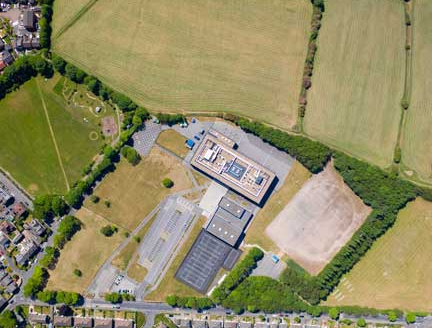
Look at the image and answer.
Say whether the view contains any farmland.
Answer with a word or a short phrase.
Yes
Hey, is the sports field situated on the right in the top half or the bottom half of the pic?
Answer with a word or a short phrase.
bottom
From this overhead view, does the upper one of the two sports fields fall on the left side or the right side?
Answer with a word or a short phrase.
left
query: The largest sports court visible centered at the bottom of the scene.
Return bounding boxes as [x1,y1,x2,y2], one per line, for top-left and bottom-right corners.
[174,228,234,294]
